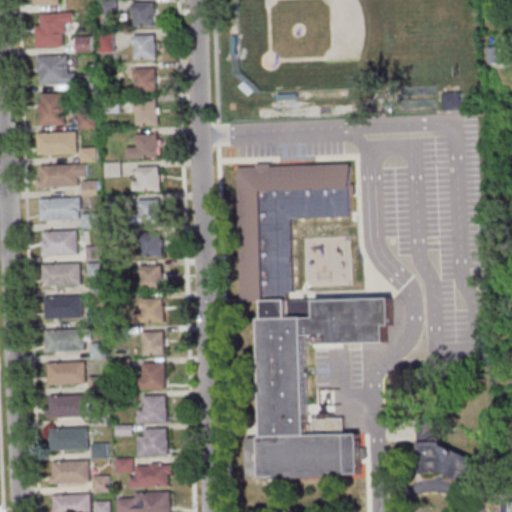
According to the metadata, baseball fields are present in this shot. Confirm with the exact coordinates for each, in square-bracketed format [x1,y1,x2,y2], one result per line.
[260,0,478,90]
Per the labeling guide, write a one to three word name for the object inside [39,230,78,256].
house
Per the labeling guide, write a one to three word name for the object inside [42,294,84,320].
house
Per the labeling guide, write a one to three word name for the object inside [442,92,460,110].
shed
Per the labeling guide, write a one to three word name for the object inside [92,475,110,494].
building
